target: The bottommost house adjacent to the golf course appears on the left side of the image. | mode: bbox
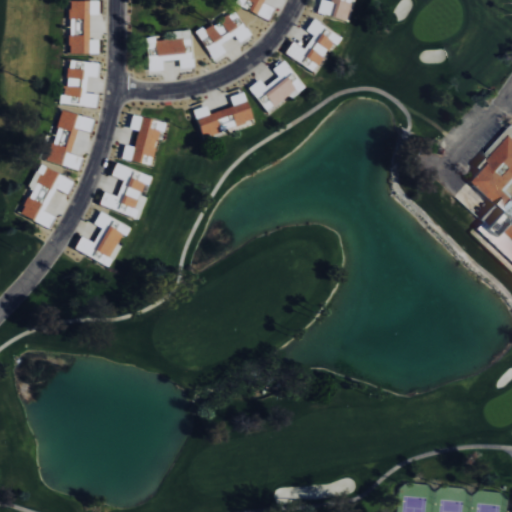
[74,212,132,267]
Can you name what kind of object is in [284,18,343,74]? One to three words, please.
house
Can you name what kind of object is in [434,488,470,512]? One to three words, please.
tennis court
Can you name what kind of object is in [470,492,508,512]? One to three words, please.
tennis court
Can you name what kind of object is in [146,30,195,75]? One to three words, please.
house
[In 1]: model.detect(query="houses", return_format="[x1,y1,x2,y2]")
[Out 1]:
[99,163,153,220]
[74,212,132,267]
[121,115,167,166]
[192,92,254,137]
[58,60,100,108]
[248,60,306,115]
[284,18,343,74]
[317,0,354,22]
[146,30,195,75]
[236,0,276,21]
[20,164,74,229]
[46,110,95,171]
[68,0,101,55]
[194,12,252,63]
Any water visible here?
Yes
